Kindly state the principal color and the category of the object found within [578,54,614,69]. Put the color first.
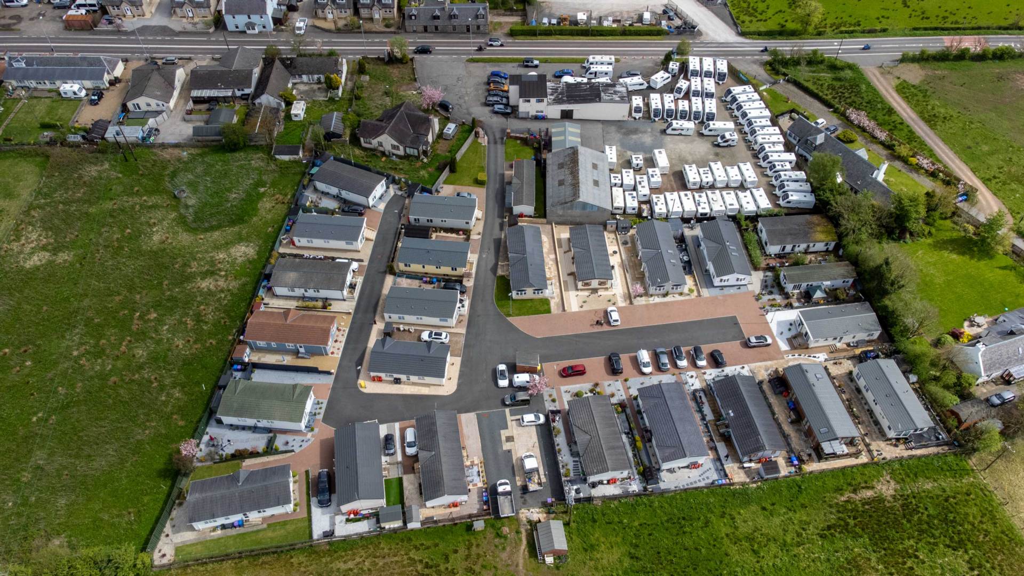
white camper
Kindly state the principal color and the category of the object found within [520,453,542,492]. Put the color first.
white truck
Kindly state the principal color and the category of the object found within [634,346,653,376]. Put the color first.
white vehicle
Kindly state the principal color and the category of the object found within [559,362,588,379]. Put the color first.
red car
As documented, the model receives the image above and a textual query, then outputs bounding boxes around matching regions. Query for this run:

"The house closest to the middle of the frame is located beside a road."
[506,222,547,300]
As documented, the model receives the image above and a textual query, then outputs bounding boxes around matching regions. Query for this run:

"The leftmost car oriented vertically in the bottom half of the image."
[315,469,331,507]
